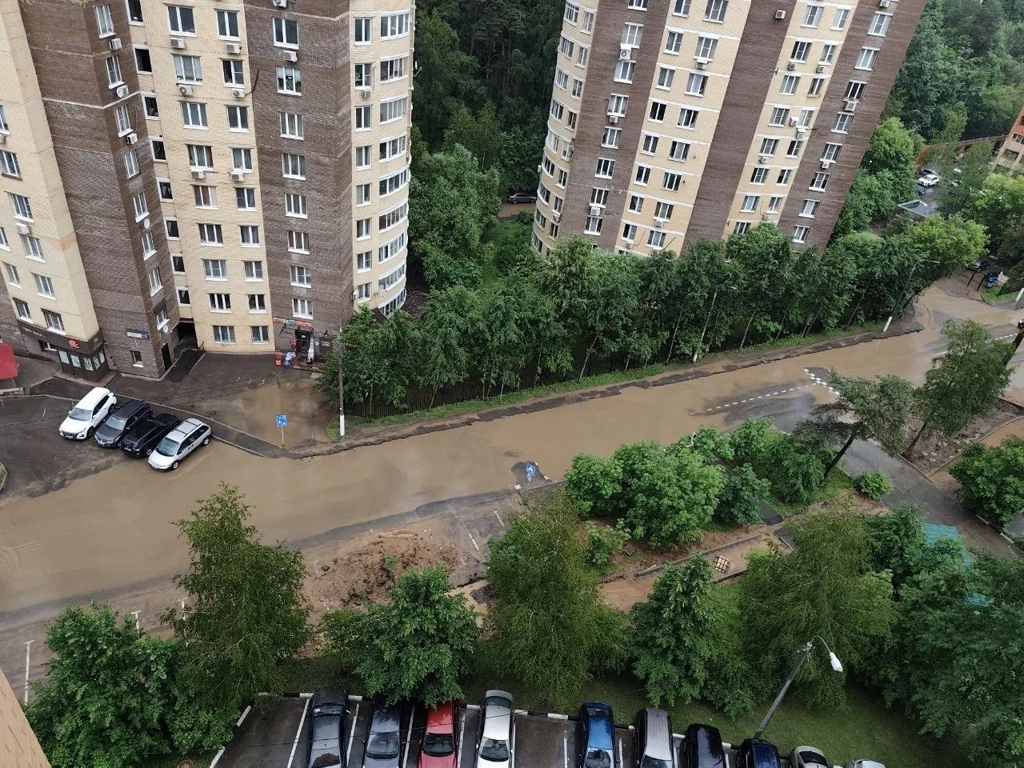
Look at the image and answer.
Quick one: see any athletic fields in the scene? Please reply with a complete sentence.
No, I find no athletic field anywhere in the image.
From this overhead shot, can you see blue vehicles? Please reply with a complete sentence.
Yes, a blue vehicle is visible in the scene.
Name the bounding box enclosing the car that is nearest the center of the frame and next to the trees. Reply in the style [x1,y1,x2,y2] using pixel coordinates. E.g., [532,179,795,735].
[505,190,535,206]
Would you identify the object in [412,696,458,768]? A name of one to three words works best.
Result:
car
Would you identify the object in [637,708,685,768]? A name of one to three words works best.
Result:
car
